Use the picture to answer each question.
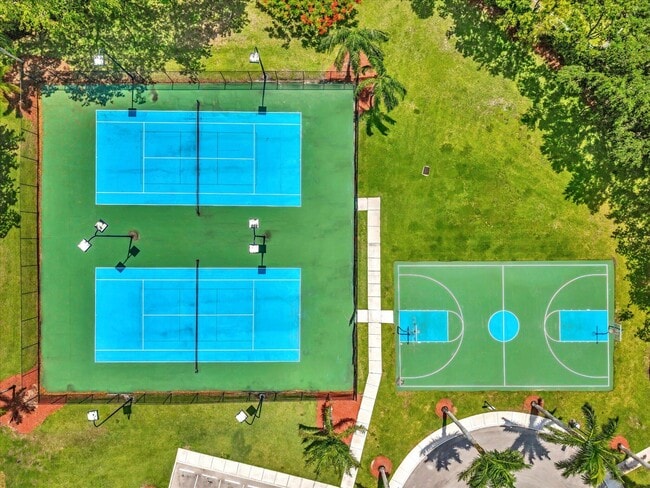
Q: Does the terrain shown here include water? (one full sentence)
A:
No, the scene doesn't show any water.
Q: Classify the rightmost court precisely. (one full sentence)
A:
The rightmost court can be classified as a basketball court.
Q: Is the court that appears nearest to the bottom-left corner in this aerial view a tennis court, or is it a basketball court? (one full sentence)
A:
The court that appears nearest to the bottom-left corner can be classified as a tennis court.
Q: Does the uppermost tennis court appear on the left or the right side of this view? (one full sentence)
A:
The uppermost tennis court appears in the left half of the scene.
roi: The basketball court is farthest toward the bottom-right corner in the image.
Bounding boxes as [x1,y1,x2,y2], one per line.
[394,260,614,392]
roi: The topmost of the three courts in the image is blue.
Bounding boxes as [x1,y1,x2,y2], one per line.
[95,110,302,206]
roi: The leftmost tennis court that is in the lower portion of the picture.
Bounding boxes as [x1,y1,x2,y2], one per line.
[95,268,300,362]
